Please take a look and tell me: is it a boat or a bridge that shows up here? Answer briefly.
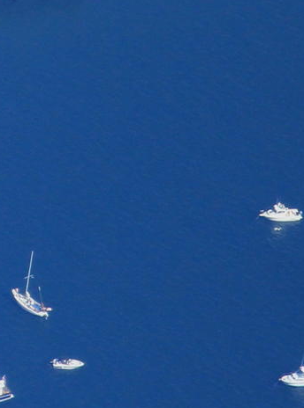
boat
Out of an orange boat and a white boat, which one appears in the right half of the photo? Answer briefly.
white boat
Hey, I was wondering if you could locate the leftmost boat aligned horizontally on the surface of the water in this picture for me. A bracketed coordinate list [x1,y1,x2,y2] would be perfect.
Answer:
[52,358,83,371]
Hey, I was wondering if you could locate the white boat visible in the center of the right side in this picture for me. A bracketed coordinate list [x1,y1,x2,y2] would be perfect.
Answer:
[255,198,303,223]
